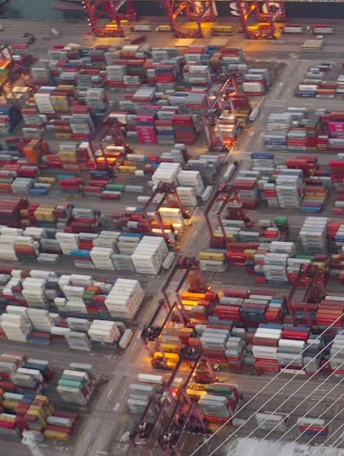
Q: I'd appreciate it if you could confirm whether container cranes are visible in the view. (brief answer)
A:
Yes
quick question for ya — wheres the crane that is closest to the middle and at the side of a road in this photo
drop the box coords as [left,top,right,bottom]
[156,191,203,250]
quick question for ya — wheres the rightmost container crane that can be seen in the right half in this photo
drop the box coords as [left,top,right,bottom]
[283,262,327,308]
